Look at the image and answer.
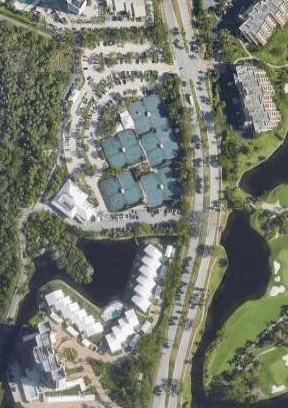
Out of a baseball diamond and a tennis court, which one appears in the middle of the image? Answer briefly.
tennis court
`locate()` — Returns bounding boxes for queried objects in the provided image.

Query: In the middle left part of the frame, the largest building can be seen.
[52,180,95,223]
